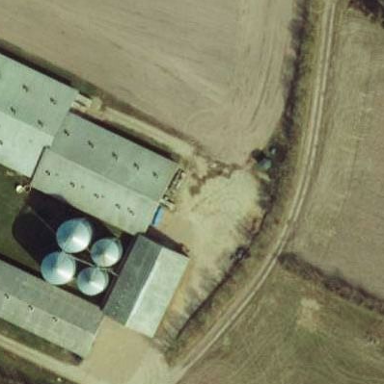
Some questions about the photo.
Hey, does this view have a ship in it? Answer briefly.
No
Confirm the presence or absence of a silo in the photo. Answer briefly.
Yes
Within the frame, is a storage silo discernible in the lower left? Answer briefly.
Yes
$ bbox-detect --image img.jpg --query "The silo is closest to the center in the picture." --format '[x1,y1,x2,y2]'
[90,237,121,268]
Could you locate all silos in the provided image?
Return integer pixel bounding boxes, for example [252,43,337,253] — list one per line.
[77,266,108,298]
[39,251,77,287]
[55,218,91,254]
[90,237,121,268]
